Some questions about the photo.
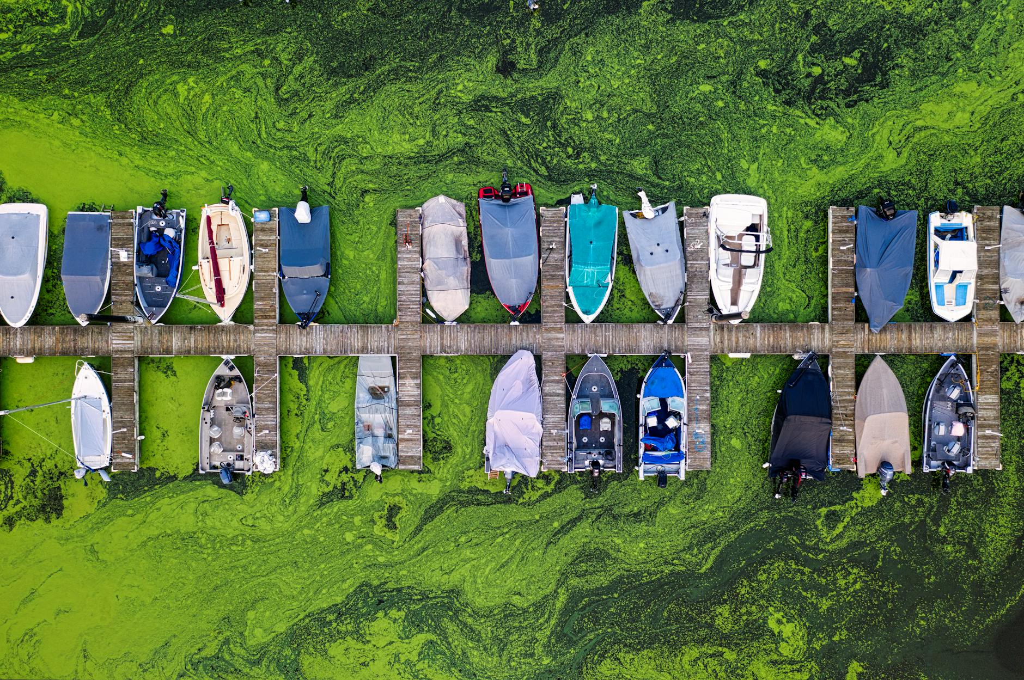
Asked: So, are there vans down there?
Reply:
No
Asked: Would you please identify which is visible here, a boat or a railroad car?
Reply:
boat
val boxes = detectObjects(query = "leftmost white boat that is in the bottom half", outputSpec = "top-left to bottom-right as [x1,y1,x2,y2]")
[0,360,115,490]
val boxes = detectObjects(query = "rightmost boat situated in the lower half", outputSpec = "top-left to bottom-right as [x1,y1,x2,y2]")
[913,355,974,497]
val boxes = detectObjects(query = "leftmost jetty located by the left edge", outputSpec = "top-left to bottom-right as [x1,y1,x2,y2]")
[0,324,114,357]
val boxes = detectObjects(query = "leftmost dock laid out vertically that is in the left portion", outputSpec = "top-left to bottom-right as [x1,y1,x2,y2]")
[110,208,143,473]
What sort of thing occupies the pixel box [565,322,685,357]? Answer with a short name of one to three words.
pier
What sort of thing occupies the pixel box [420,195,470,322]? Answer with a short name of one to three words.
boat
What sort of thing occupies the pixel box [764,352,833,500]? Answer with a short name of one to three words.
boat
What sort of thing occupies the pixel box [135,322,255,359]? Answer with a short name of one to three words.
pier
